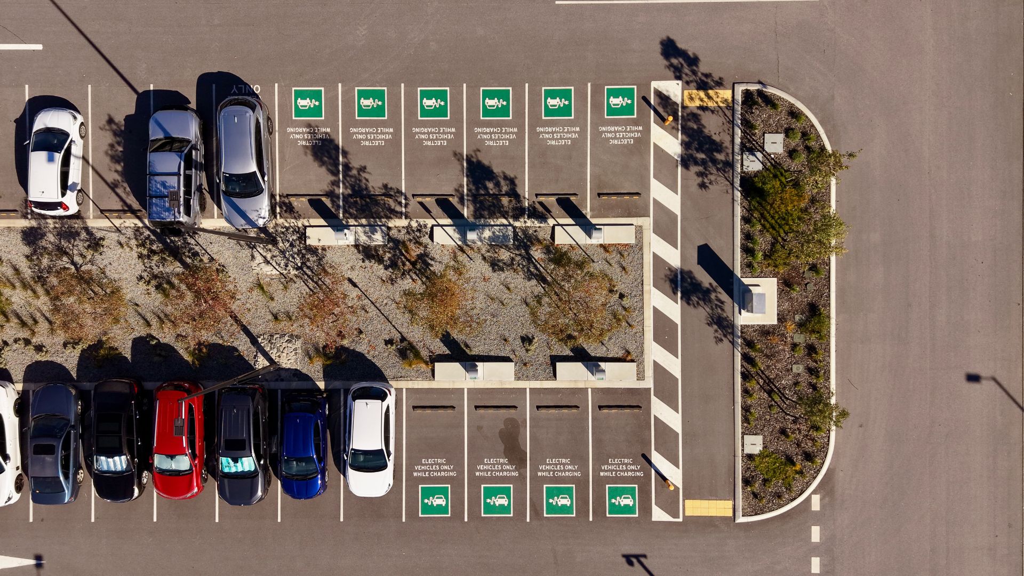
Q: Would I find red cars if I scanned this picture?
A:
Yes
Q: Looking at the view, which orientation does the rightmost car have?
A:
vertically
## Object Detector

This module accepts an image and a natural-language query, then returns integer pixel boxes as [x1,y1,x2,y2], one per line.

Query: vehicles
[210,380,271,505]
[20,381,83,505]
[83,377,148,502]
[142,105,206,232]
[144,378,207,499]
[342,380,397,496]
[0,381,24,505]
[273,393,328,498]
[216,100,275,229]
[23,107,86,216]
